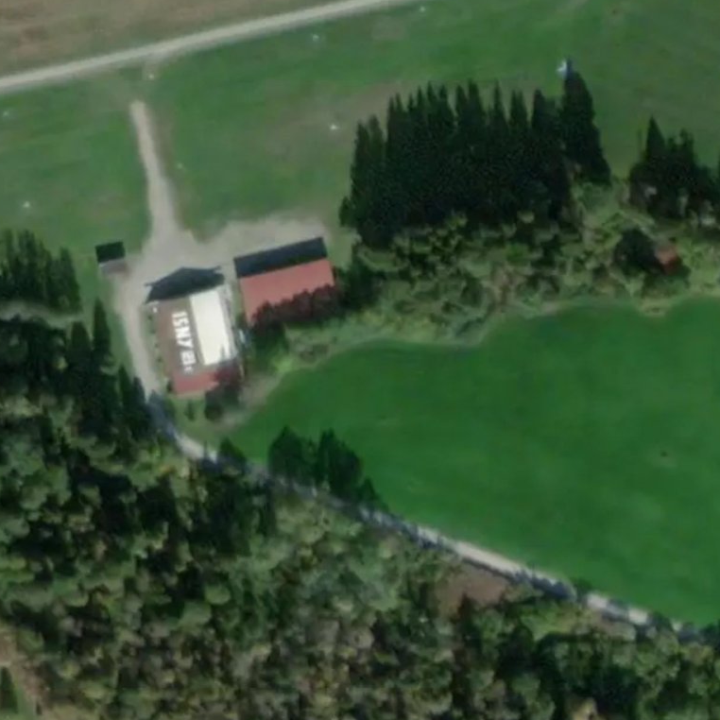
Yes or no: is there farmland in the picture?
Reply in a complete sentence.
Yes, the picture does contain farmland.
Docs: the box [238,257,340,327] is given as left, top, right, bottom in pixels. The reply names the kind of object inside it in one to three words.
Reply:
hangar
